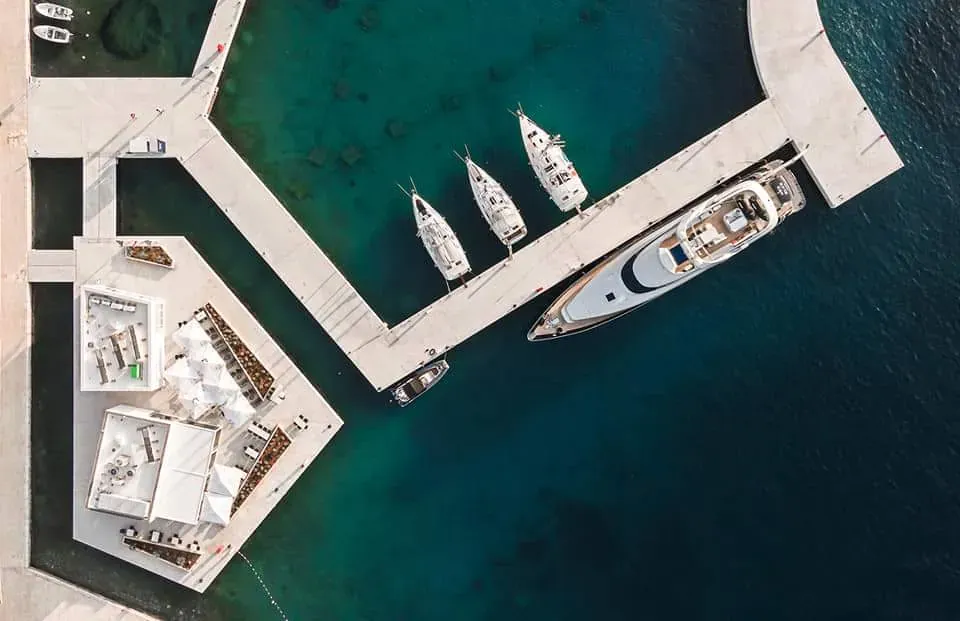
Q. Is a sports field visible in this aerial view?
No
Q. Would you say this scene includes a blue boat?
No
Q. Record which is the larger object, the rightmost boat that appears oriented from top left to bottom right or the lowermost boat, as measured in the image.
the rightmost boat that appears oriented from top left to bottom right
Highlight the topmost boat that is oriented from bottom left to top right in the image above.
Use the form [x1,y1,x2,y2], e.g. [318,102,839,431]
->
[527,140,807,339]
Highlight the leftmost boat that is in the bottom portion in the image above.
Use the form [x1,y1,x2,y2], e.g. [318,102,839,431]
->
[392,355,449,406]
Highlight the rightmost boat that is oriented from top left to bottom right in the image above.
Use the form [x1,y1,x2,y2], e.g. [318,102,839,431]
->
[509,100,591,215]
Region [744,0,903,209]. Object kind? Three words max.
pier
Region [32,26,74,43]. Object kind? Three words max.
boat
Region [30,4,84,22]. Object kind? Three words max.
boat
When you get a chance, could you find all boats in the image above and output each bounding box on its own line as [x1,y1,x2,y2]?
[404,180,477,293]
[30,4,84,22]
[32,26,74,43]
[456,145,532,249]
[527,140,807,339]
[392,355,449,406]
[509,100,591,215]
